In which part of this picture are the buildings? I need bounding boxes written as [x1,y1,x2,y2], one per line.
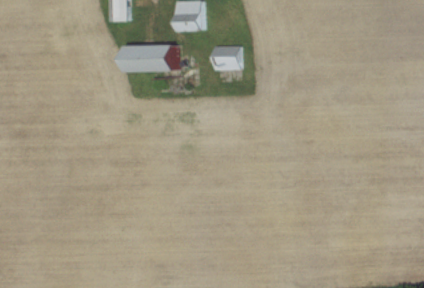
[171,0,206,32]
[210,47,243,71]
[114,46,180,72]
[109,0,132,23]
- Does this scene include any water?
No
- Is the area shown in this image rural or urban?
rural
